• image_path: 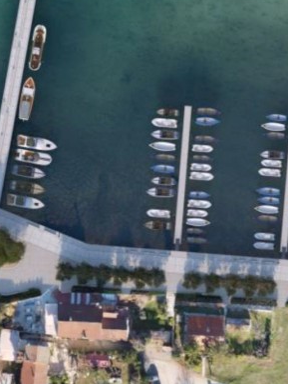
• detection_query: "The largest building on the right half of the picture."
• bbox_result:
[188,314,225,343]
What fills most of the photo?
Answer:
water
